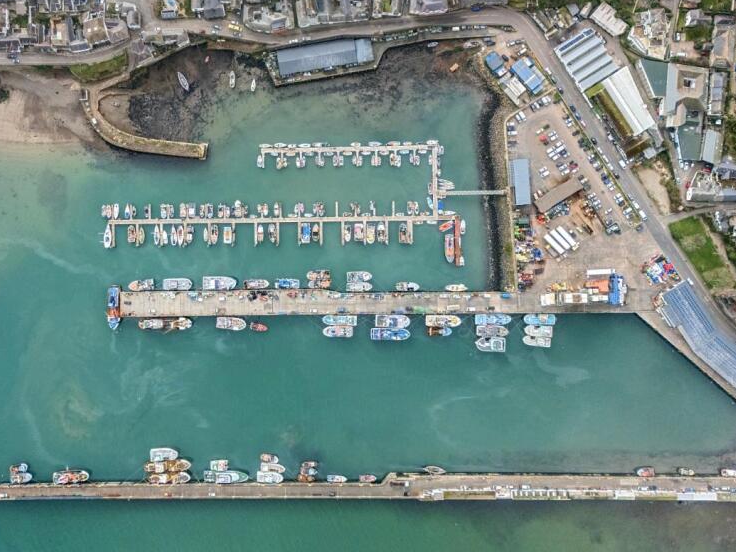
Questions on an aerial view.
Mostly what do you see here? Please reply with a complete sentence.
The largest share of the image is taken up by water.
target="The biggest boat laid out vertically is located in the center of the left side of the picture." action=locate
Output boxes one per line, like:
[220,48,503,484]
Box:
[107,285,119,329]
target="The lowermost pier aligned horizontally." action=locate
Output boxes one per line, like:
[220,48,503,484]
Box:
[0,471,736,502]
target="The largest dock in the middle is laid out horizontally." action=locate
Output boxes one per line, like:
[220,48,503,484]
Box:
[120,290,516,318]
